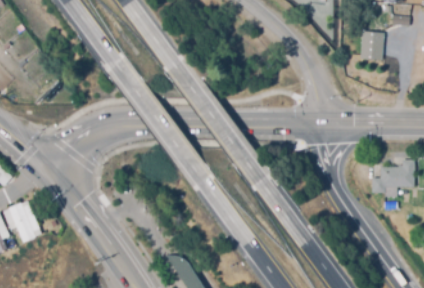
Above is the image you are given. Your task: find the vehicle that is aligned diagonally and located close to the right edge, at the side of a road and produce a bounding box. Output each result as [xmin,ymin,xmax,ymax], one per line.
[390,266,410,288]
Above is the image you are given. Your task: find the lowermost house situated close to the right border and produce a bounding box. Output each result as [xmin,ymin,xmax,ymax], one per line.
[372,162,416,198]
